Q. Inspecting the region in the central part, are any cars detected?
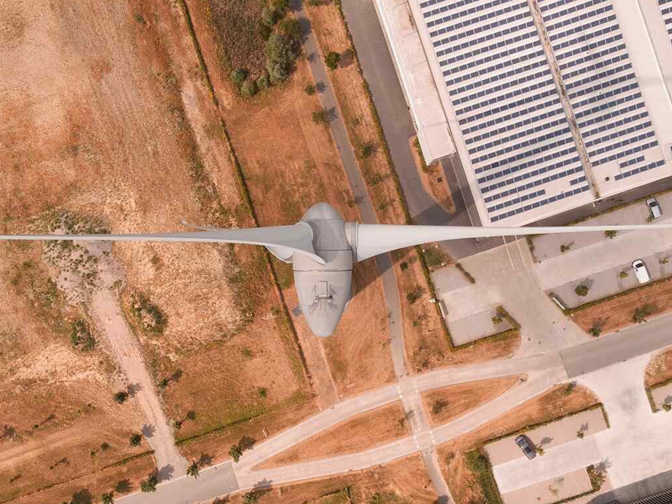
No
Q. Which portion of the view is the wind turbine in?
center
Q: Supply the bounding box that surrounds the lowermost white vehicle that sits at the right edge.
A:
[633,258,651,285]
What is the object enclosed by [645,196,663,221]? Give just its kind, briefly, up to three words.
car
